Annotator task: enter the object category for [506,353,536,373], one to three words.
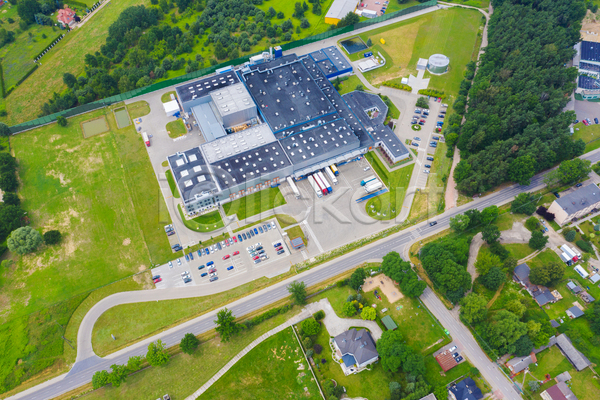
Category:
house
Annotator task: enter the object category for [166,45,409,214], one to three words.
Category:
building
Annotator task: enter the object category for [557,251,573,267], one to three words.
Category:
vehicle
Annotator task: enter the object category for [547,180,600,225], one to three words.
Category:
building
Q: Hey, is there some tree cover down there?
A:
Yes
